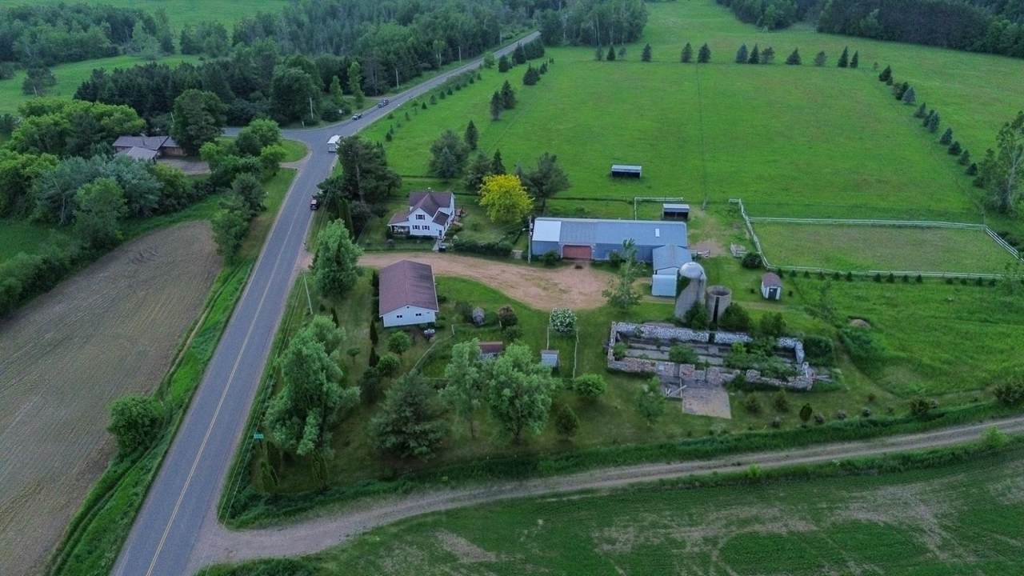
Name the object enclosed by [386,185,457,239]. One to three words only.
house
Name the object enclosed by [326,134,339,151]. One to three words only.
vehicle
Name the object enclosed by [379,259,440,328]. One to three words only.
building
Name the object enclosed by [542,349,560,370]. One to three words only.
shed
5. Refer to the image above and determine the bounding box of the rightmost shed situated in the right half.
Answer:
[757,272,785,300]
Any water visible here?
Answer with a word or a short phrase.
No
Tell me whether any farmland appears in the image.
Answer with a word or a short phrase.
Yes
